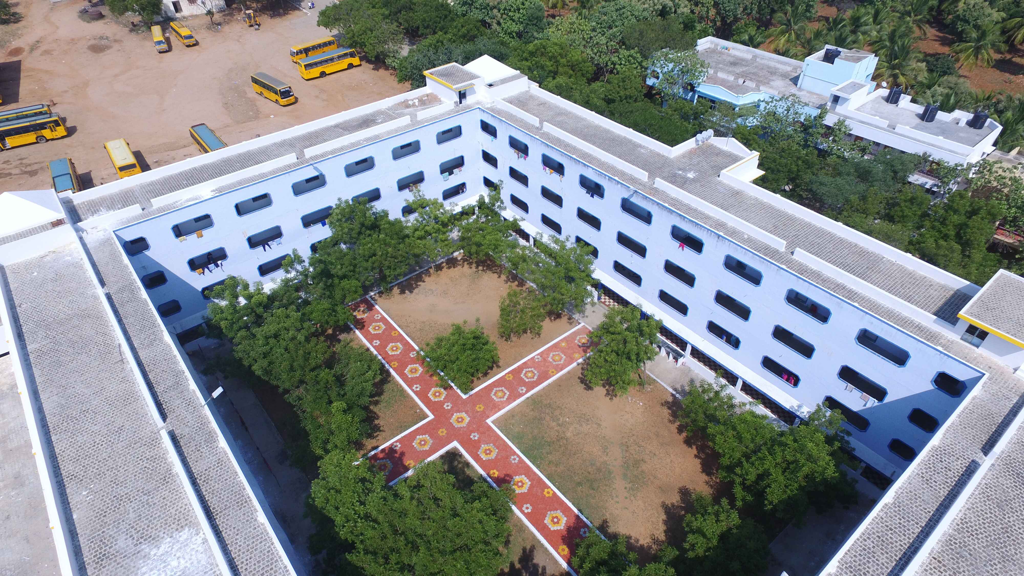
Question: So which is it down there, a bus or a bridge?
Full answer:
It is a bus that can be seen here.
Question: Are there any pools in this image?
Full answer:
No, no pool can be seen from above.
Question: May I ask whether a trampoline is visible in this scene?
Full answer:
No, I can see no trampoline in this picture.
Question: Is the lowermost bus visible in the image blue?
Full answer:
Yes, the lowermost bus is indeed blue.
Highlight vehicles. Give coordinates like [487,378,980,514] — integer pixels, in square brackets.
[238,7,259,28]
[150,26,167,51]
[247,74,295,107]
[170,22,194,46]
[286,33,336,62]
[0,107,66,151]
[188,124,225,152]
[46,159,83,205]
[104,140,140,176]
[292,45,356,76]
